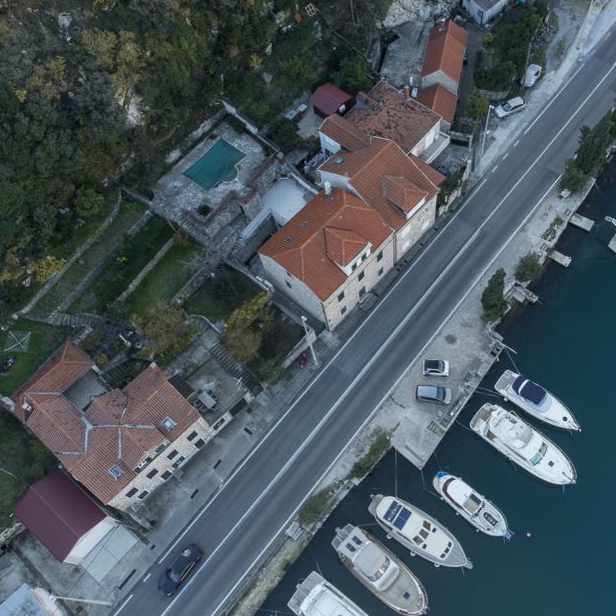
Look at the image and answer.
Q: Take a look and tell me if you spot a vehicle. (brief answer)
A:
Yes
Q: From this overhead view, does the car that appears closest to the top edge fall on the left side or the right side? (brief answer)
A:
right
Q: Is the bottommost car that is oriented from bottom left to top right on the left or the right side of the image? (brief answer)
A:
left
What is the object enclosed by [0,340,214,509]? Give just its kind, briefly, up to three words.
house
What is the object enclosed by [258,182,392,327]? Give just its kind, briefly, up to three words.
house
